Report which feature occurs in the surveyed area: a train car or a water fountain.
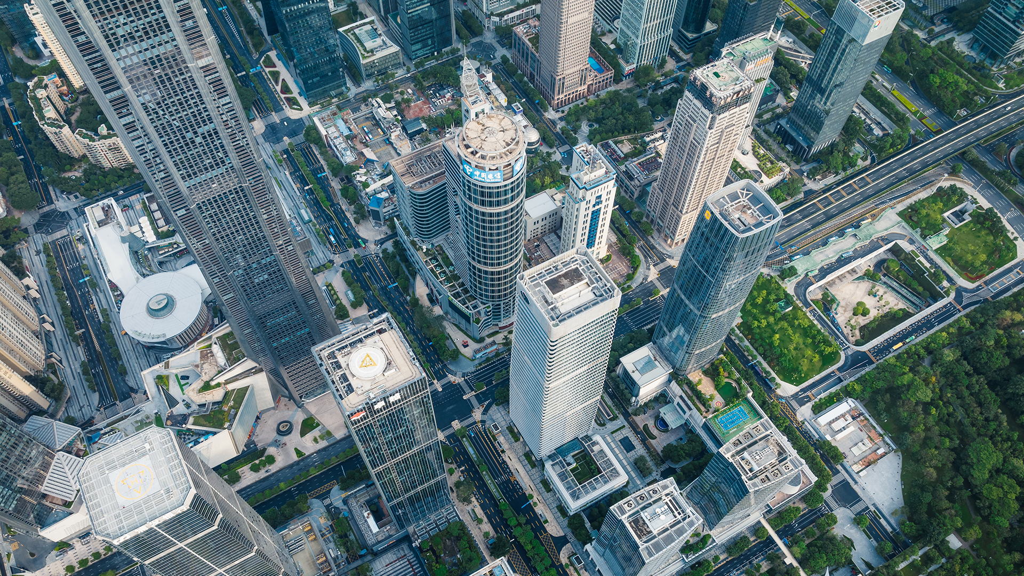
water fountain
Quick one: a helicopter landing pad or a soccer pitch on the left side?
helicopter landing pad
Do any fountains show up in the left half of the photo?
Yes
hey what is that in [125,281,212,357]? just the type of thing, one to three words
building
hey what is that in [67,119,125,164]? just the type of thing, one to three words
building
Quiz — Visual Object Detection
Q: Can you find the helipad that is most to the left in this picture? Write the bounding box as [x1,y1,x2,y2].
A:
[104,446,159,507]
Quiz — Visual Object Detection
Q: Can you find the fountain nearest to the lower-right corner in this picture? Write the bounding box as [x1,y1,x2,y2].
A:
[652,413,672,433]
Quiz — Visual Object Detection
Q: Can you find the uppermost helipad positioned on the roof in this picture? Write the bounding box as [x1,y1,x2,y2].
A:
[349,346,388,382]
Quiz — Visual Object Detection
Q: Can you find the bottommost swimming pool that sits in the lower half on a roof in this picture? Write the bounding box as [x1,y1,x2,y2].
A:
[554,438,582,462]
